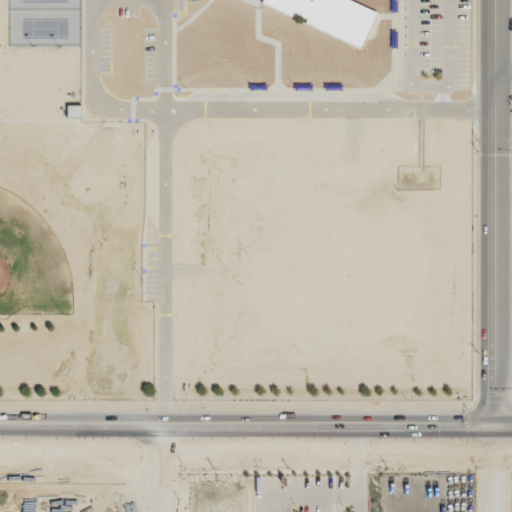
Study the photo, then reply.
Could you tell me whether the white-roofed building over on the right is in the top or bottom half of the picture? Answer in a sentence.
The white-roofed building over on the right sits in the top half of the picture.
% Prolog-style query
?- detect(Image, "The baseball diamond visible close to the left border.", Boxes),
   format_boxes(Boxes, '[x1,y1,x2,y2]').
[0,188,74,314]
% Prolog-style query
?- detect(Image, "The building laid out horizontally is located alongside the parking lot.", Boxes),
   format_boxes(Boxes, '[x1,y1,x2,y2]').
[259,0,378,48]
